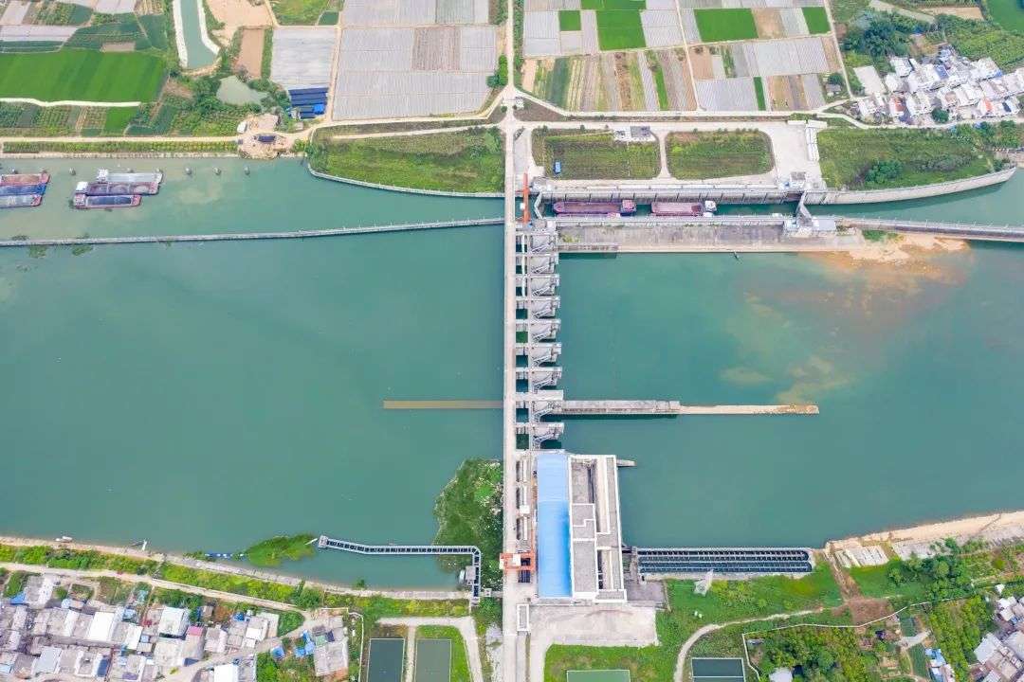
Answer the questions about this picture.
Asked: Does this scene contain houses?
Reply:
Yes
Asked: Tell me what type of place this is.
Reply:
port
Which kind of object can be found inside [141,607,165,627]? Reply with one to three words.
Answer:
house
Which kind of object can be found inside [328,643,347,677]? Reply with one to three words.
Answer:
house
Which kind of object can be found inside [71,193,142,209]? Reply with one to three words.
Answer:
ship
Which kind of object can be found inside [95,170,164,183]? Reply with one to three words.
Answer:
ship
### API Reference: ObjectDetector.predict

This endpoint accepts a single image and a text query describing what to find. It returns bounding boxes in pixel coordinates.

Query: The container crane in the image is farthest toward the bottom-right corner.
[498,547,535,574]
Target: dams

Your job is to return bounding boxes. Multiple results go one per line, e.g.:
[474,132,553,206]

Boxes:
[503,129,562,682]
